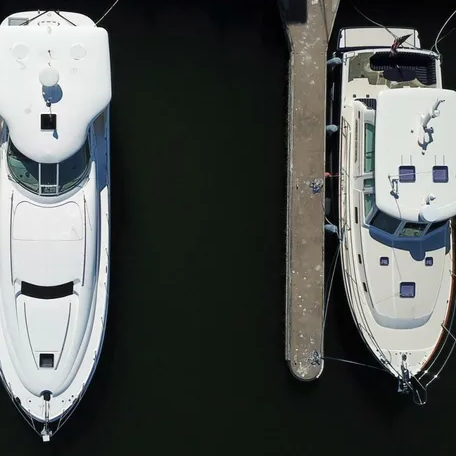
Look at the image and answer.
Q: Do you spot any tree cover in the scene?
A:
No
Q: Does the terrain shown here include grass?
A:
No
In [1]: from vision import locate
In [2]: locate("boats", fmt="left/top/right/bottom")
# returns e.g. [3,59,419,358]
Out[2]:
[332,27,456,414]
[0,10,112,446]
